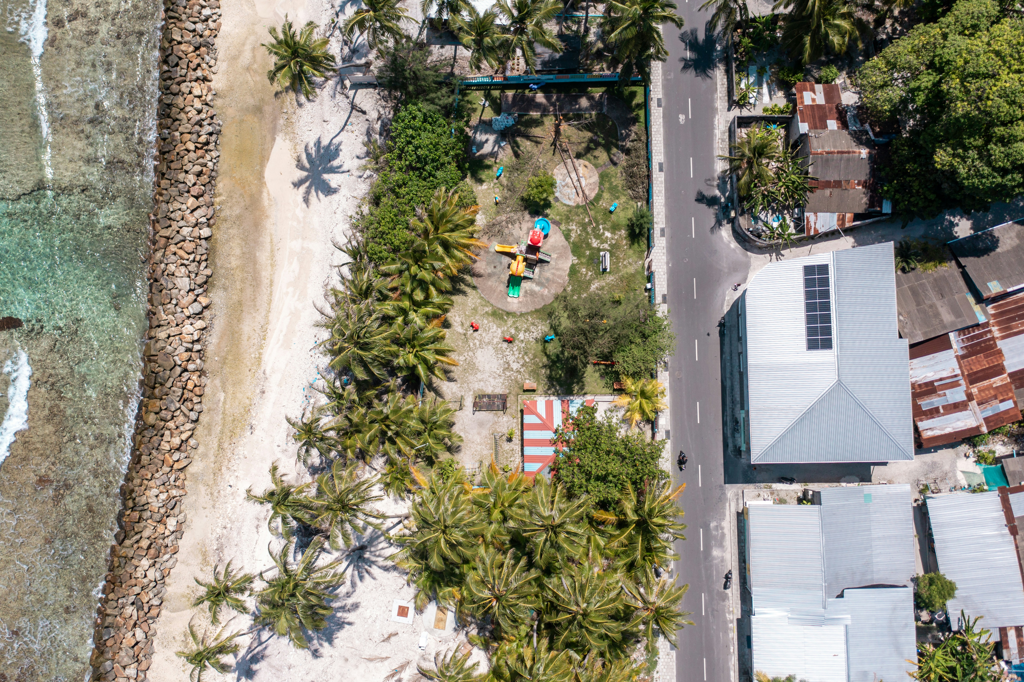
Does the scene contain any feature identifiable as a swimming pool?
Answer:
No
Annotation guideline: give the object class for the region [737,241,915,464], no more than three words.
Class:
house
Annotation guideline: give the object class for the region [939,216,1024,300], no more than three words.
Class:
house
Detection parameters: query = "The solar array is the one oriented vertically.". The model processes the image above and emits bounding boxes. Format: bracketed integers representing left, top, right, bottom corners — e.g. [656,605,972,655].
[803,264,833,350]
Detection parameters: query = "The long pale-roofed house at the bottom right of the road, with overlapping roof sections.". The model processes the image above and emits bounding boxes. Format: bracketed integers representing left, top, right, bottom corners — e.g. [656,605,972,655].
[742,484,918,682]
